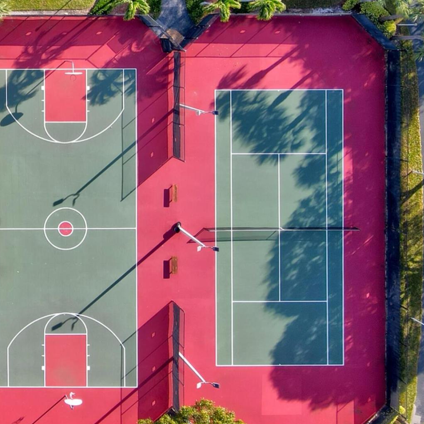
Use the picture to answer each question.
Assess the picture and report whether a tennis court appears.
Yes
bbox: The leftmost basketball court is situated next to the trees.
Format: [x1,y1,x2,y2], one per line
[0,69,137,388]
